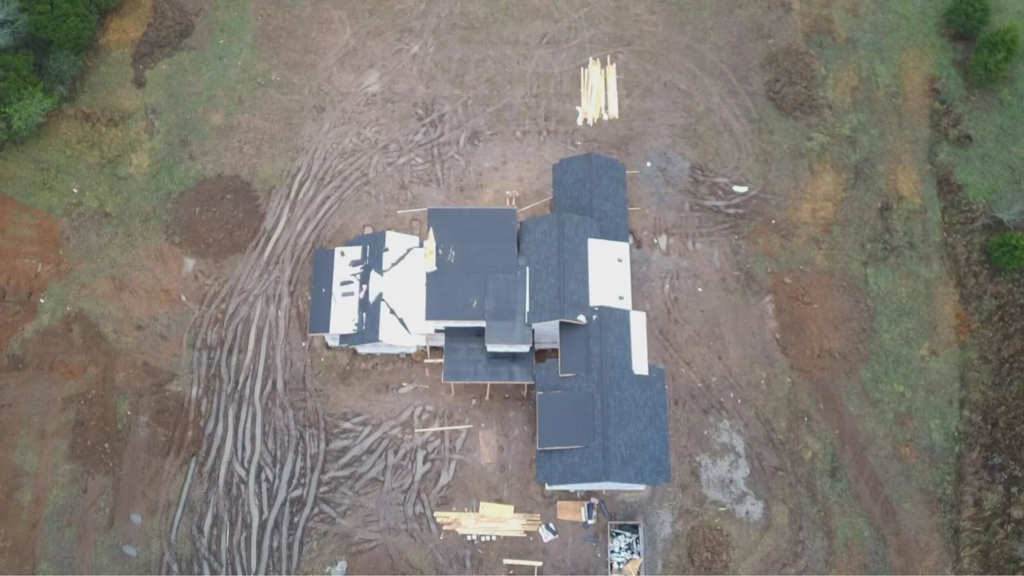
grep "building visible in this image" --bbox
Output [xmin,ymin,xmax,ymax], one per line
[308,152,670,490]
